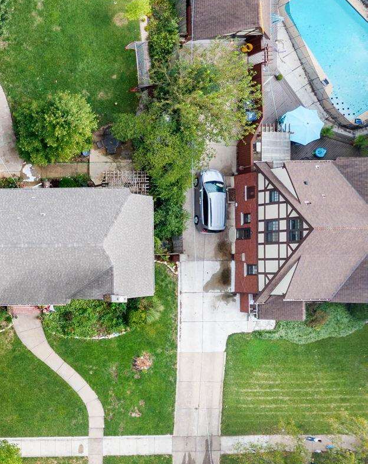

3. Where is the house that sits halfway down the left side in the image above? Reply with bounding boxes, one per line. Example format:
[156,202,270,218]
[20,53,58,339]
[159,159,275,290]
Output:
[0,189,153,315]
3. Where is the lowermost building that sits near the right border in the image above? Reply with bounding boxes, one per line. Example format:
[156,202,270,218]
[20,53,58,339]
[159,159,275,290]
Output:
[225,157,368,320]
